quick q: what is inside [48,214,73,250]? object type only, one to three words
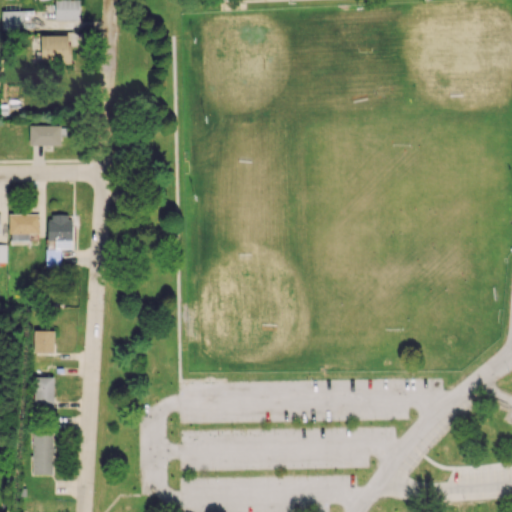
house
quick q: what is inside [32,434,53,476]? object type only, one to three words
house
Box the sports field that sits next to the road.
[183,0,512,372]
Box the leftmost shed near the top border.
[1,10,34,30]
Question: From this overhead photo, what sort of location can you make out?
sports ground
